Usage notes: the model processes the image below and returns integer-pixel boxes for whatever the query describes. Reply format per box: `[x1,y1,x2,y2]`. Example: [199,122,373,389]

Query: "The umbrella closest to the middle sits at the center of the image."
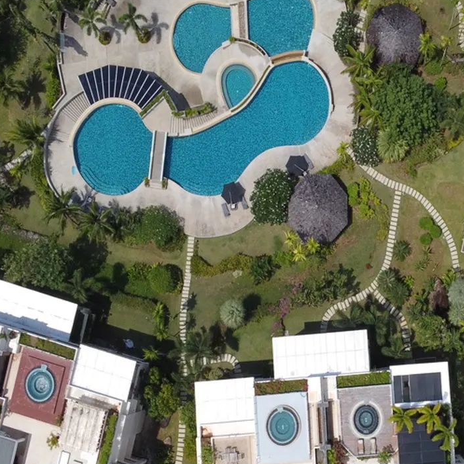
[222,183,245,207]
